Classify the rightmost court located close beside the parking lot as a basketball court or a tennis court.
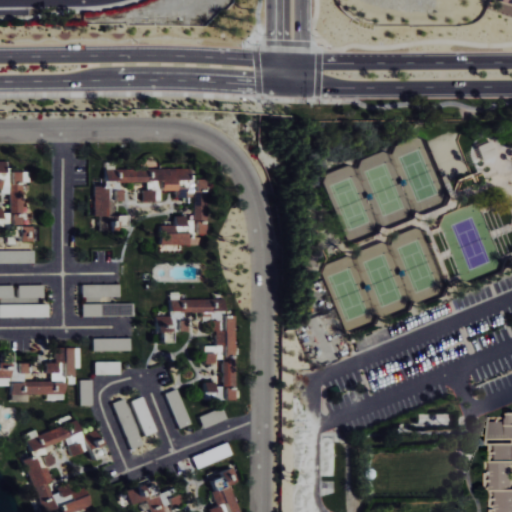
tennis court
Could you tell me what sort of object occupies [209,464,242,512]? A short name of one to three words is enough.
house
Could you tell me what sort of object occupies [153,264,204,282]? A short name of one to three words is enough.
swimming pool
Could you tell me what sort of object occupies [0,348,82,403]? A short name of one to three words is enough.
house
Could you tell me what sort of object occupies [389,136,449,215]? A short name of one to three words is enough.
tennis court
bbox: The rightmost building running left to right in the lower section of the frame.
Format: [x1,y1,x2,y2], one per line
[412,414,450,426]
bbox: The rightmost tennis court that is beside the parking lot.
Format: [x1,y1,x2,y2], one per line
[438,203,502,283]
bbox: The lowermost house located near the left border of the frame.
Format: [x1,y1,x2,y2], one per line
[22,416,108,512]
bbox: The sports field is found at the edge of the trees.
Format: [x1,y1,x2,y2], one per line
[370,450,454,497]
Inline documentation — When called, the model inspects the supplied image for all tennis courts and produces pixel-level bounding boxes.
[388,229,446,304]
[438,203,502,283]
[353,242,412,319]
[355,152,414,228]
[325,166,378,242]
[389,136,449,215]
[318,256,376,333]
